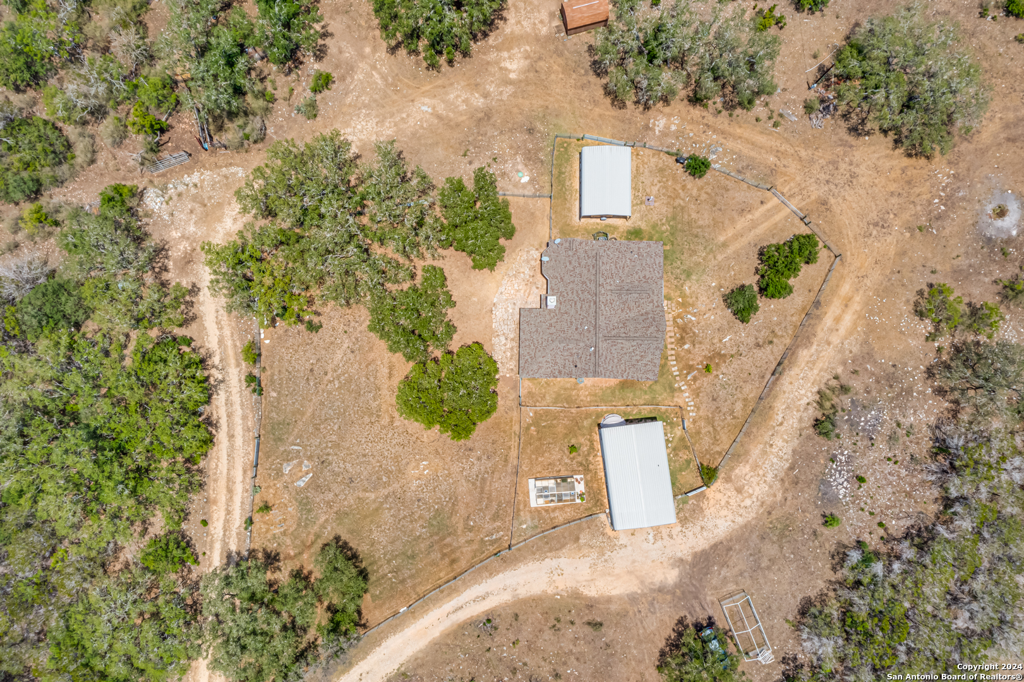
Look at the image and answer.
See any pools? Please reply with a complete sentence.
No, I can't see a single pool in this photo.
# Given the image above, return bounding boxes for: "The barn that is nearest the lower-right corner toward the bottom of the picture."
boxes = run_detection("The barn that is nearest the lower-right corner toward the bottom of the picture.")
[597,418,676,531]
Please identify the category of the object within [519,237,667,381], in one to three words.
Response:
house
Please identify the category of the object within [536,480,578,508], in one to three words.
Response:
greenhouse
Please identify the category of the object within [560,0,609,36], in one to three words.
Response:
shed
